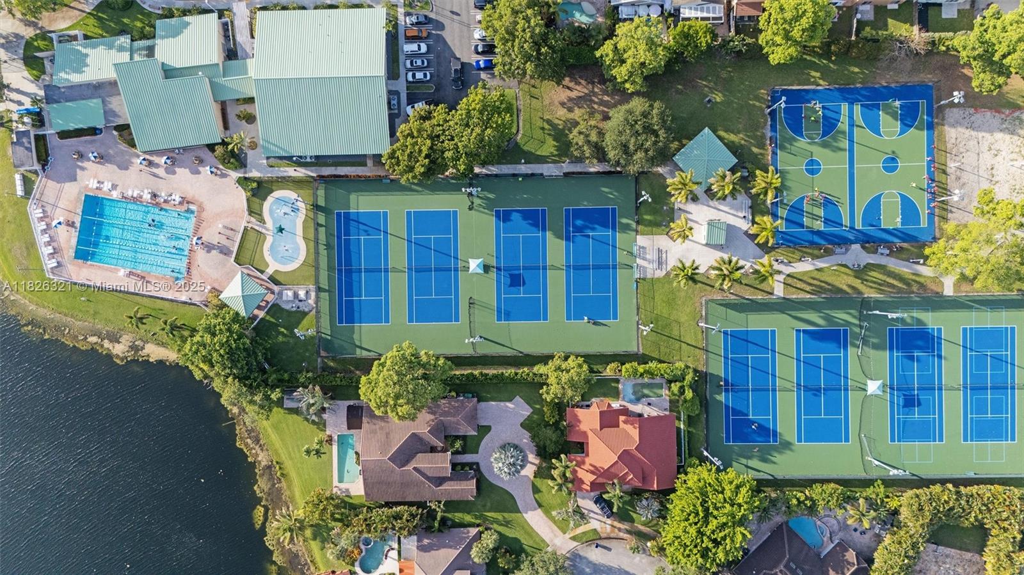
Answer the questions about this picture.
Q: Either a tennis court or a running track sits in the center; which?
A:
tennis court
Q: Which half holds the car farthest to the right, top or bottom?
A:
bottom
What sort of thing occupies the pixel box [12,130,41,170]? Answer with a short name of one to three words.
building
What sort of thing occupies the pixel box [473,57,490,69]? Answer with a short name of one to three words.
vehicle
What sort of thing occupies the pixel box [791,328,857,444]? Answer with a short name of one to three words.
tennis court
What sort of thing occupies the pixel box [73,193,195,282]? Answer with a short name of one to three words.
swimming pool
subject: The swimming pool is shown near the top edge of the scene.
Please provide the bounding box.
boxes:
[555,0,597,24]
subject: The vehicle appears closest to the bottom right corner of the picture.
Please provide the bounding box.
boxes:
[592,496,613,519]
